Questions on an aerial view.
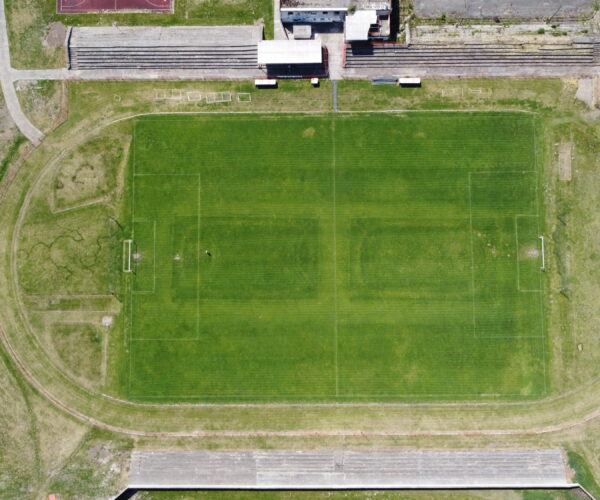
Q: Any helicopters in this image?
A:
No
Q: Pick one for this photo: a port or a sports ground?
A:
sports ground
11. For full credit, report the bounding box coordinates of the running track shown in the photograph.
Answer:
[0,82,600,436]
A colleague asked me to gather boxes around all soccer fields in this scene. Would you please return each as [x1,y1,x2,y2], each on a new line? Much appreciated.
[126,111,550,404]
